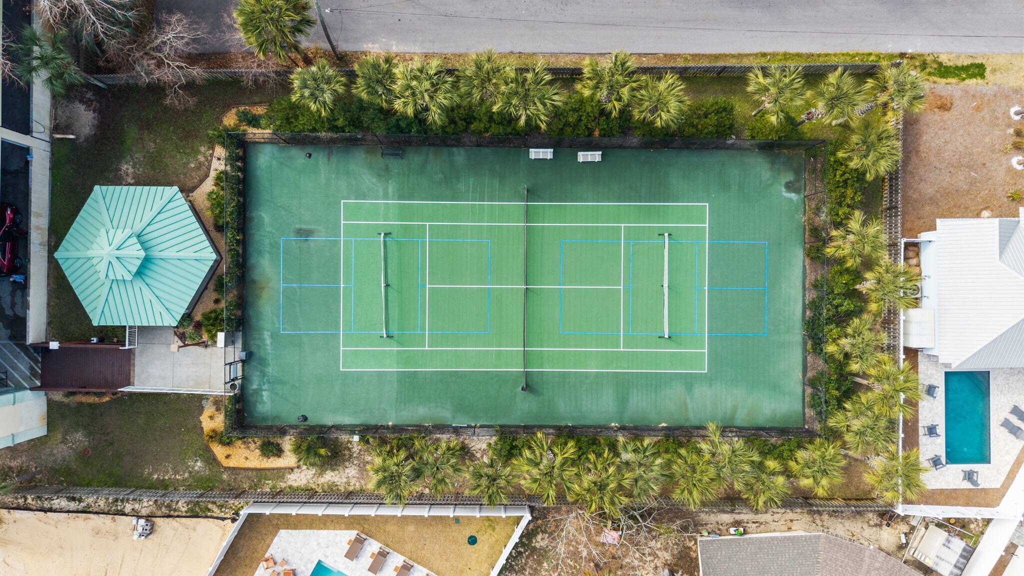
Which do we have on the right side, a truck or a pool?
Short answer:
pool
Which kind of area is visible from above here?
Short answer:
sports ground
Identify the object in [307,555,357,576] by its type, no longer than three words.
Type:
swimming pool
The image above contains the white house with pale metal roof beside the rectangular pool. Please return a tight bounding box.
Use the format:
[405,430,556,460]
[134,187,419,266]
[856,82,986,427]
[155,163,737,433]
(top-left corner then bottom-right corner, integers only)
[918,207,1024,370]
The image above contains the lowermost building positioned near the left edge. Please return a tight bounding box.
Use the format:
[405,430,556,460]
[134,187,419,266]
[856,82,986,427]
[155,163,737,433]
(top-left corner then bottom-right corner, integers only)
[0,390,50,446]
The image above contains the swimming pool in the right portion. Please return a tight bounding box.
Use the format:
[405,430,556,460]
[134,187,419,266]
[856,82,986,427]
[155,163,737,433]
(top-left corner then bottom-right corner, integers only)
[943,367,993,469]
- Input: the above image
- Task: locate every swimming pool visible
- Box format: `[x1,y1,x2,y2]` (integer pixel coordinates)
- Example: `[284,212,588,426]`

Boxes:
[943,367,993,469]
[307,555,357,576]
